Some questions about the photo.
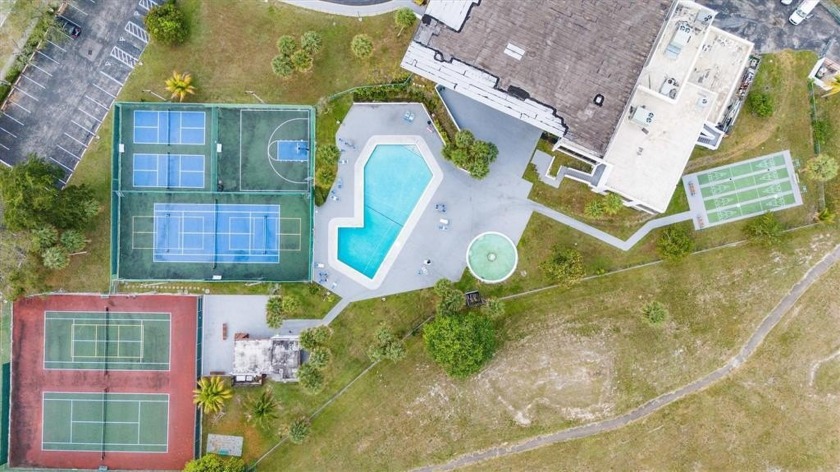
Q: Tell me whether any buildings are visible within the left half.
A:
Yes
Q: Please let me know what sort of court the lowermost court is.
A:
tennis court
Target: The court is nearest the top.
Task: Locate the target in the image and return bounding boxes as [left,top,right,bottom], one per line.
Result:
[133,108,205,144]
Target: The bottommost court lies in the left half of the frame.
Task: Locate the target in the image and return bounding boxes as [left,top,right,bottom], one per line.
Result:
[41,389,170,458]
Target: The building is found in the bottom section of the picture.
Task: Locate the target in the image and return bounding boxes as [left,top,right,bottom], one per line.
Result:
[232,336,303,387]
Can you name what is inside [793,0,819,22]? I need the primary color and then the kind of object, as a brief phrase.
white vehicle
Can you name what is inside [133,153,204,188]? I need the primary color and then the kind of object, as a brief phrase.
blue sports court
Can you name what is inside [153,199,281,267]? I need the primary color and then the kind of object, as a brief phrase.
blue tennis court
